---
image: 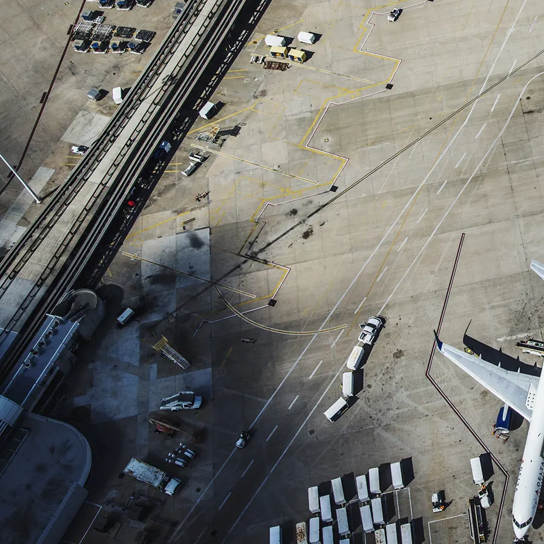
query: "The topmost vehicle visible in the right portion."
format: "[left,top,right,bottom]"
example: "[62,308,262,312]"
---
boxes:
[388,10,402,22]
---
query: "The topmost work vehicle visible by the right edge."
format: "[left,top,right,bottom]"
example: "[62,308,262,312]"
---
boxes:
[513,338,544,359]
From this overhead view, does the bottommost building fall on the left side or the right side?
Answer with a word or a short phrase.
left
